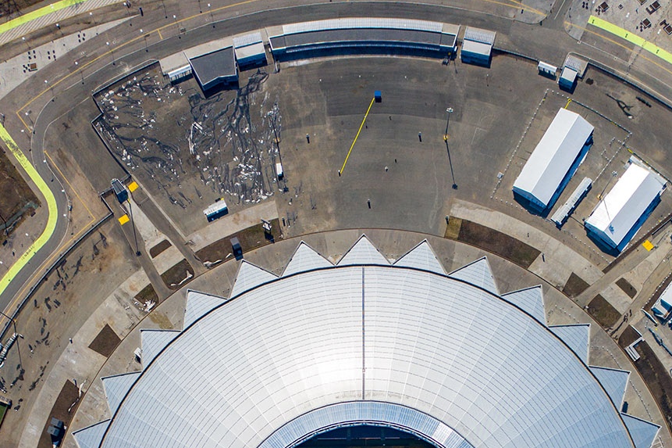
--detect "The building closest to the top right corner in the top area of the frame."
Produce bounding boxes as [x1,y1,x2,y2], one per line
[559,53,590,87]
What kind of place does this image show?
sports ground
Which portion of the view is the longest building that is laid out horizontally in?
top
